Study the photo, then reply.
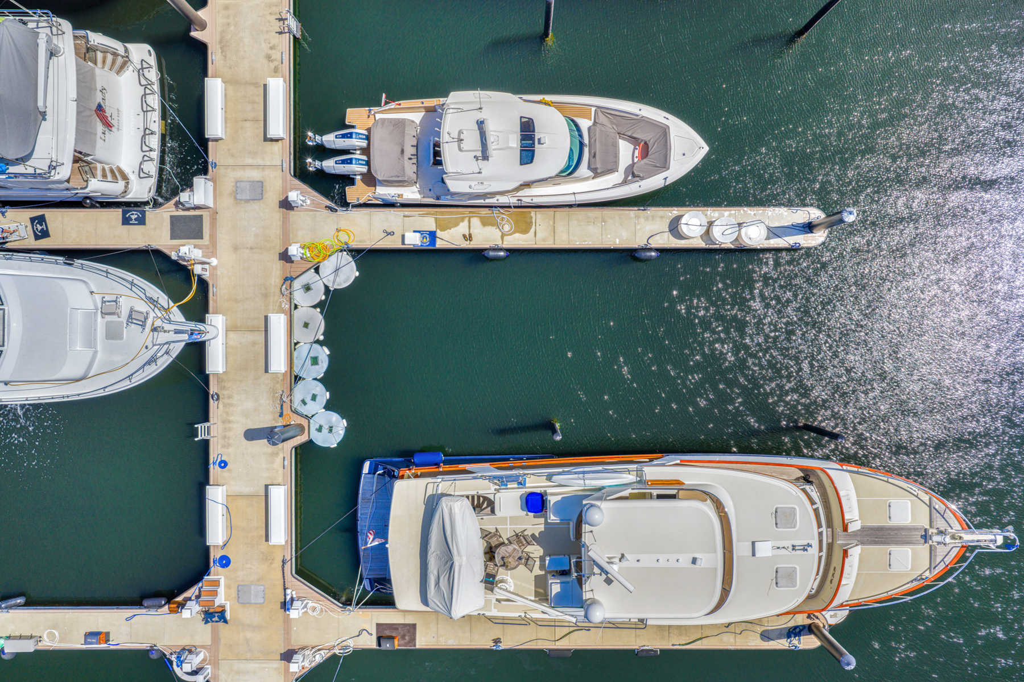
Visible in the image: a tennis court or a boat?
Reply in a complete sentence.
The image shows a boat.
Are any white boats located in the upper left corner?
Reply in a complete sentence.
Yes, a white boat appears in the upper left corner.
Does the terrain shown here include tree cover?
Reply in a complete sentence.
No, there is no tree cover in the image.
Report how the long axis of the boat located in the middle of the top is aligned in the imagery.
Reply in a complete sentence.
In this picture, the boat located in the middle of the top lies from left to right.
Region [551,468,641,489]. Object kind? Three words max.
boat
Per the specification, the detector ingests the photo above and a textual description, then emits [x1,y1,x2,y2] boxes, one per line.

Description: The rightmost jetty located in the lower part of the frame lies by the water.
[292,603,829,650]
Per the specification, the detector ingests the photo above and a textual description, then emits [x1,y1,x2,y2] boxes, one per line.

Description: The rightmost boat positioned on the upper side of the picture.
[305,86,709,209]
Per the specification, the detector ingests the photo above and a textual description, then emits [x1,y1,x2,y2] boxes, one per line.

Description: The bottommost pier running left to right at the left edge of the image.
[0,603,211,650]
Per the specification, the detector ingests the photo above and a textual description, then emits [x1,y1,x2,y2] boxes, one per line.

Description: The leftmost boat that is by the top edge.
[0,0,167,210]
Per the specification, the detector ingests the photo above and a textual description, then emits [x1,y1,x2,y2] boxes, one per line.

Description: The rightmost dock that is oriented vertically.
[156,0,345,682]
